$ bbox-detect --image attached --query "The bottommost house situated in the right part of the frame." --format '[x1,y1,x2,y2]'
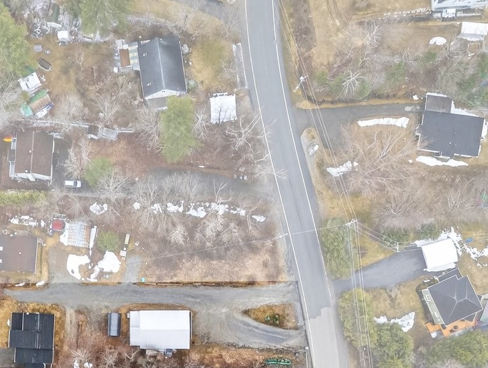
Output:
[421,268,482,327]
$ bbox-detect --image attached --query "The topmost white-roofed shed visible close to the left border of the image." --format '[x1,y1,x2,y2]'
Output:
[18,72,41,95]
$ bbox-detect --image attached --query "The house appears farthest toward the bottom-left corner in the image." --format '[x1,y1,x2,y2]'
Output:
[8,312,54,368]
